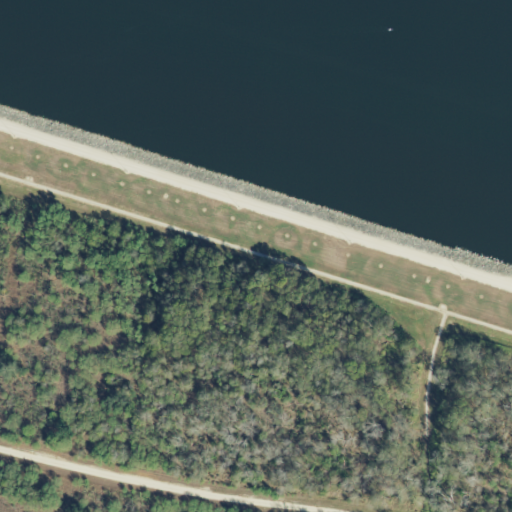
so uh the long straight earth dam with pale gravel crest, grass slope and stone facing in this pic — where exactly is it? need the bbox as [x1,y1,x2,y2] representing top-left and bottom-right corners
[0,102,512,326]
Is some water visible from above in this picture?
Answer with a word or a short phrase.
Yes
